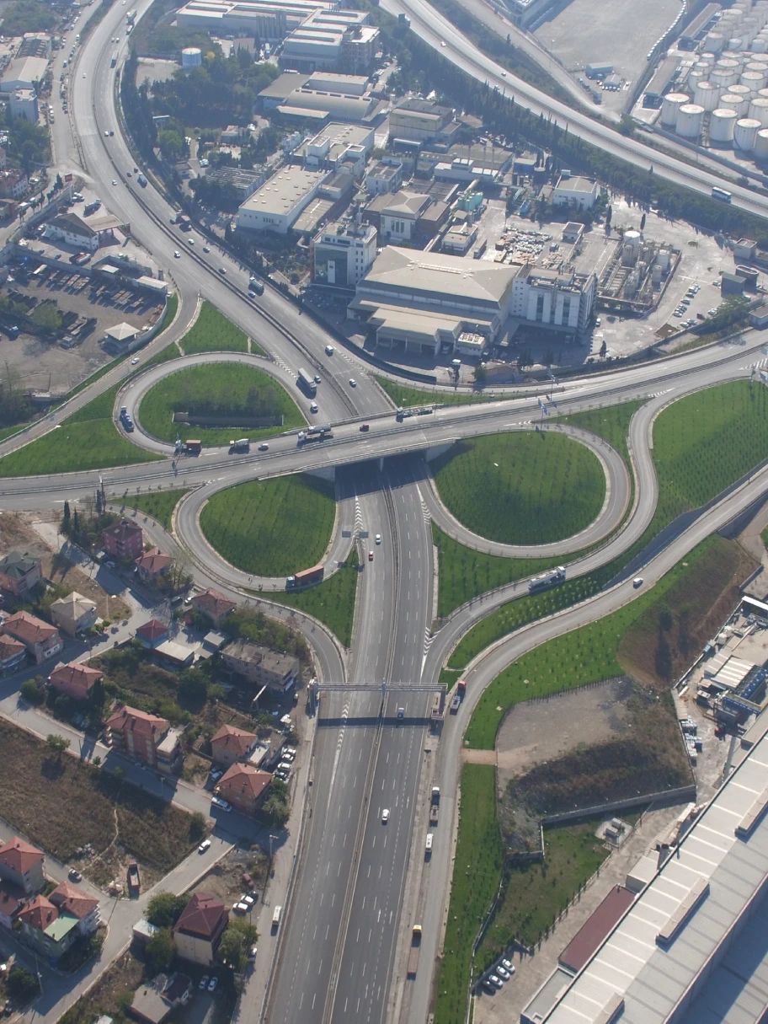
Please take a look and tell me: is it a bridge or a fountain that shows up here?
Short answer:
bridge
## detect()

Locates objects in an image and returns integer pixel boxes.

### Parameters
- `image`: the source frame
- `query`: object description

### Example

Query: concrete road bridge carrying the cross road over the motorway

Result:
[291,398,462,481]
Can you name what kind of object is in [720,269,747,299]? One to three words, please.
building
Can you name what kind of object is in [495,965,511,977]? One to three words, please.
vehicle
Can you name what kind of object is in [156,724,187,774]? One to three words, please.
house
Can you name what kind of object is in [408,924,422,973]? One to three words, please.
vehicle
